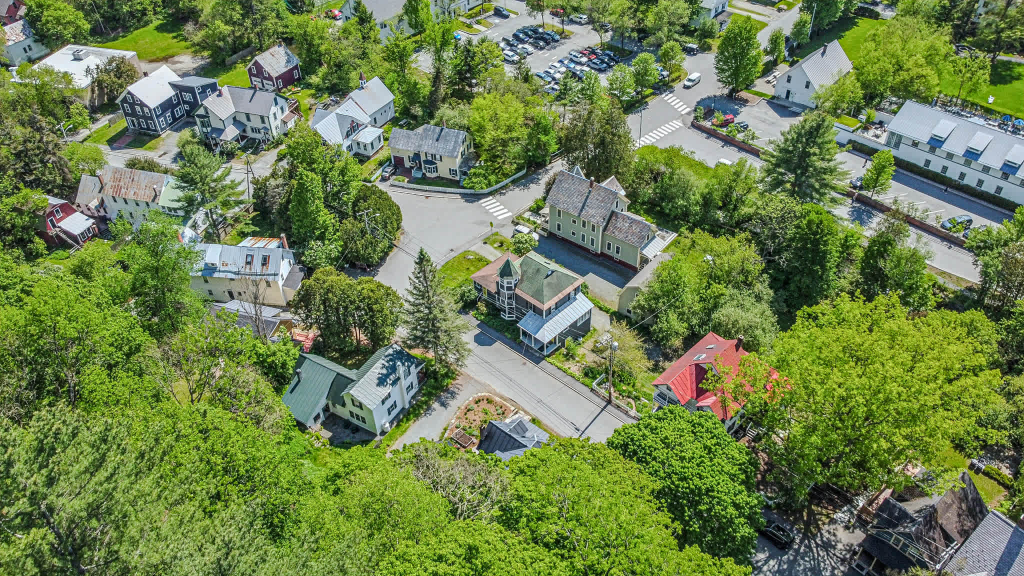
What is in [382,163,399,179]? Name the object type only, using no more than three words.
car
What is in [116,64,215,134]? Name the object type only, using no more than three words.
house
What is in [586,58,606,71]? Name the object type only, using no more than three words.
vehicle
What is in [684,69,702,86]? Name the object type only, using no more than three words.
vehicle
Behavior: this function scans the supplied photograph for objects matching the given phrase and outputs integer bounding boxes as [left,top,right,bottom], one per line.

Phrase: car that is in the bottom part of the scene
[756,513,801,552]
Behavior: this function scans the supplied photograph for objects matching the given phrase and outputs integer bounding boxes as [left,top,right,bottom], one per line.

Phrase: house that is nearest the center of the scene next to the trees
[465,248,600,359]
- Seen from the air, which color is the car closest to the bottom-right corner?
black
